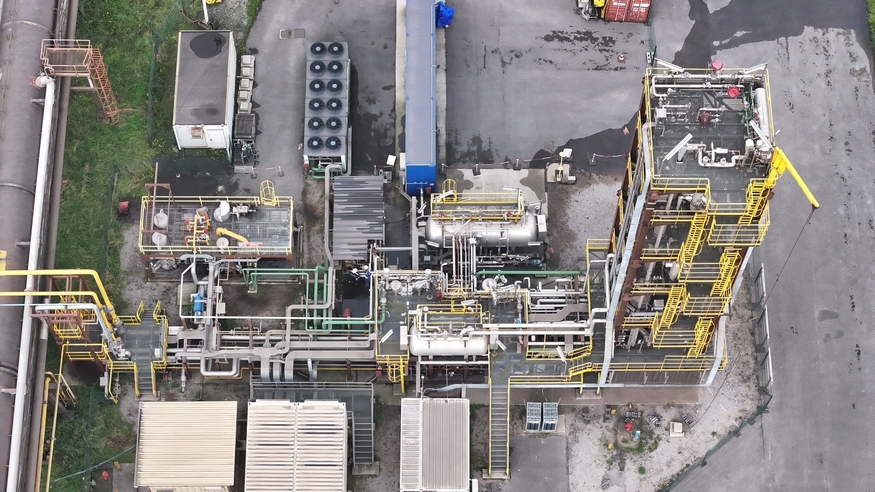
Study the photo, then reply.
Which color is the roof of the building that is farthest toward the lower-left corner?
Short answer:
white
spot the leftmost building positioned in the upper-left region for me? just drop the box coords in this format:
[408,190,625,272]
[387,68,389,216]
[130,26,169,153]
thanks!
[174,30,233,148]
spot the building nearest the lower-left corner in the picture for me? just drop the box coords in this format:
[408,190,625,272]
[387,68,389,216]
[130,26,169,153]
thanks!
[131,400,238,492]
